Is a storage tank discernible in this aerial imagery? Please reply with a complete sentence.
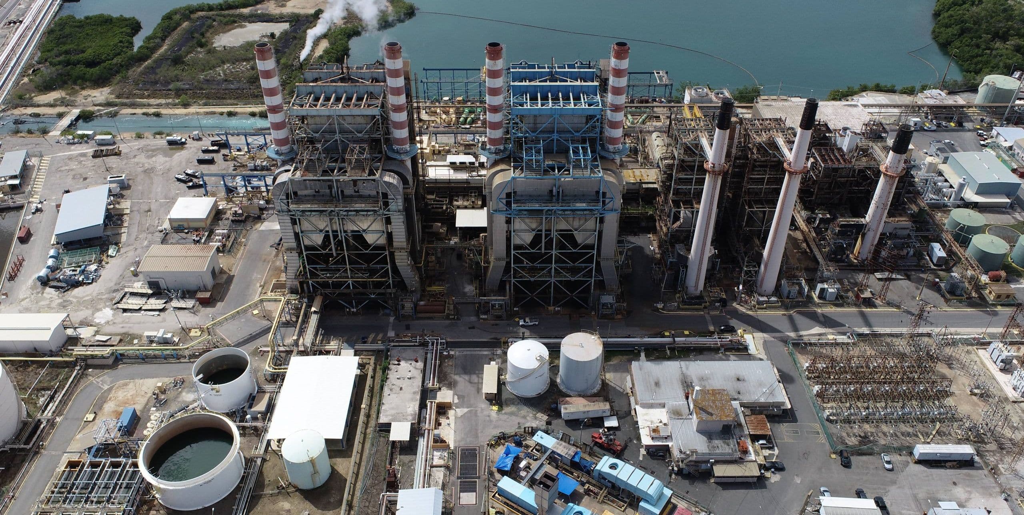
Yes, there is a storage tank in the image.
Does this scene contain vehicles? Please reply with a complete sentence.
Yes, I can see a vehicle in this picture.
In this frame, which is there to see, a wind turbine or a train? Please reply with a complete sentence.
It is a wind turbine that can be seen here.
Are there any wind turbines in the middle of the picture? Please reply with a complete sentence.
No, no wind turbine is visible in the middle of the picture.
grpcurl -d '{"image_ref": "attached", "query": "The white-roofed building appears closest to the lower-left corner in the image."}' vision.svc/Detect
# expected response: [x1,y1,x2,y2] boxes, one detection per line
[0,313,86,352]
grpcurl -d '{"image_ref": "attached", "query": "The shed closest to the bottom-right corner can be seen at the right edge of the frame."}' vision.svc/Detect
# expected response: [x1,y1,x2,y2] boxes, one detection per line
[985,284,1017,302]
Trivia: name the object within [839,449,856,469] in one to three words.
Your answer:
car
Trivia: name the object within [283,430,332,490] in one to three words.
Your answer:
storage tank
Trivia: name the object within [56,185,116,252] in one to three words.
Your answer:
shed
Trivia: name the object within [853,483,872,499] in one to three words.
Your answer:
vehicle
